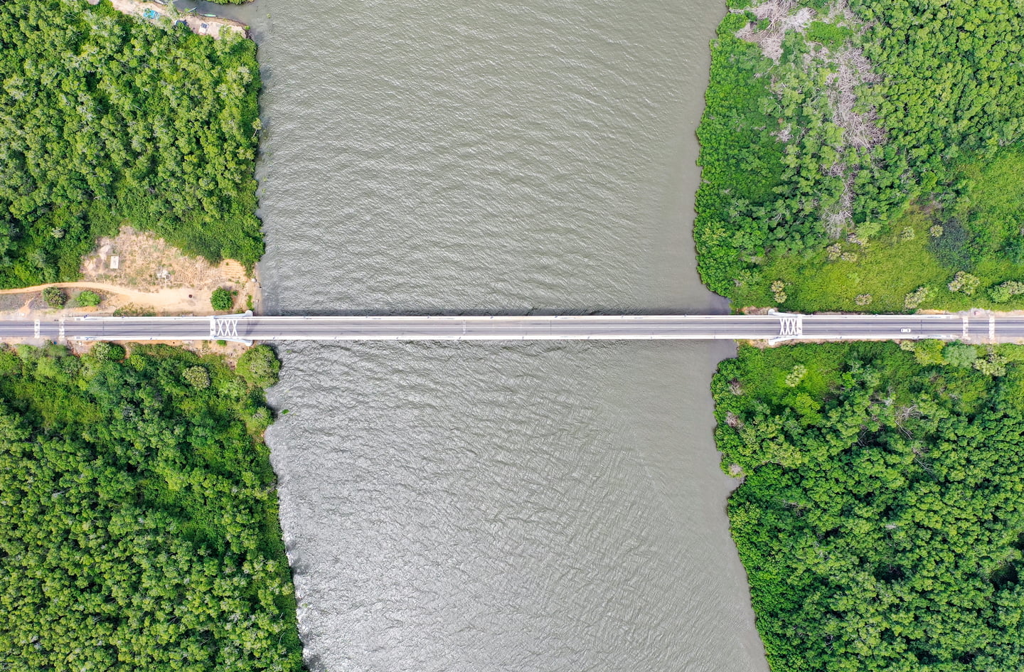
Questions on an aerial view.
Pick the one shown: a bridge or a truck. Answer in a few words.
bridge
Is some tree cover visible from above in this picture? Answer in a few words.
Yes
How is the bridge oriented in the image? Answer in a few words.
from left to right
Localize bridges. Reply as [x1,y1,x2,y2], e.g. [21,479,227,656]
[66,309,961,345]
